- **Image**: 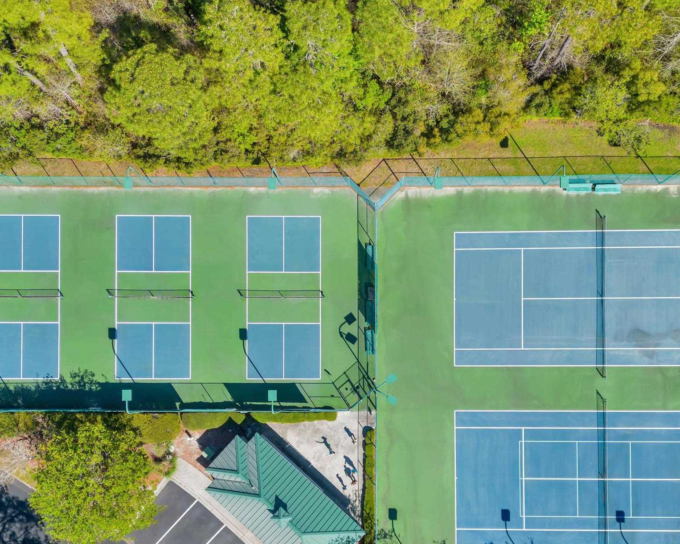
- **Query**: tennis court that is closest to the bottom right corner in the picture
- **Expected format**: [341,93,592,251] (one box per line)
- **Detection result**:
[455,410,680,544]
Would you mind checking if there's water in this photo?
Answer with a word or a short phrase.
No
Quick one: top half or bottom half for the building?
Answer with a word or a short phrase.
bottom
